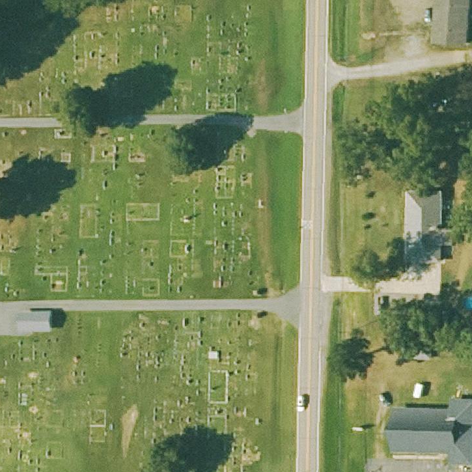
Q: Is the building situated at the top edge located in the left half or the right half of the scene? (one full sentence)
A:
It is on the right.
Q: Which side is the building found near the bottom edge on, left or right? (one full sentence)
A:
It is on the right.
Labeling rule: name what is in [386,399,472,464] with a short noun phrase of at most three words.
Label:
building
